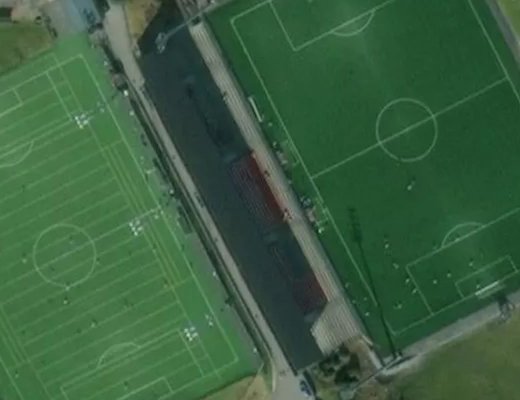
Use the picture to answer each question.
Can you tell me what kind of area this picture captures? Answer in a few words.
sports ground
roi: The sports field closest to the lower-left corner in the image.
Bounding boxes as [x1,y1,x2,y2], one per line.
[0,35,258,400]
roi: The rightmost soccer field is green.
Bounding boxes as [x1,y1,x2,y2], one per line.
[205,0,520,361]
